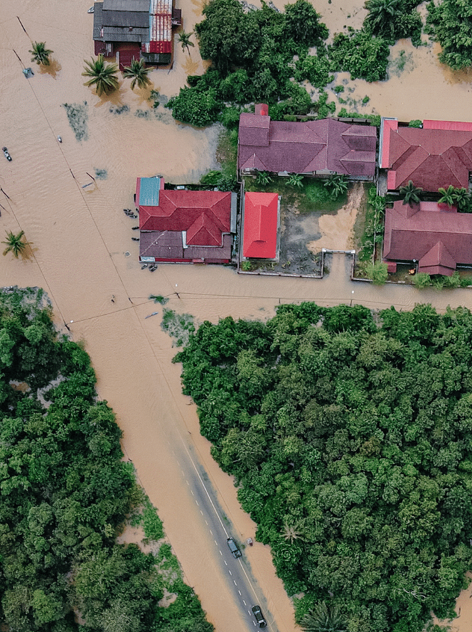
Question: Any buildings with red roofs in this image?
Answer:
Yes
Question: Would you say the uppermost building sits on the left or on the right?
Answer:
left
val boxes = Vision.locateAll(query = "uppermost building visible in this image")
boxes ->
[93,0,181,71]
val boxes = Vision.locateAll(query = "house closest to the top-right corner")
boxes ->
[379,118,472,192]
